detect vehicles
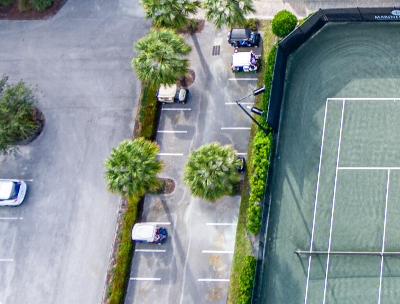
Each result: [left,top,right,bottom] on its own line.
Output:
[0,182,29,208]
[225,53,259,75]
[126,225,166,247]
[227,27,261,49]
[152,83,189,105]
